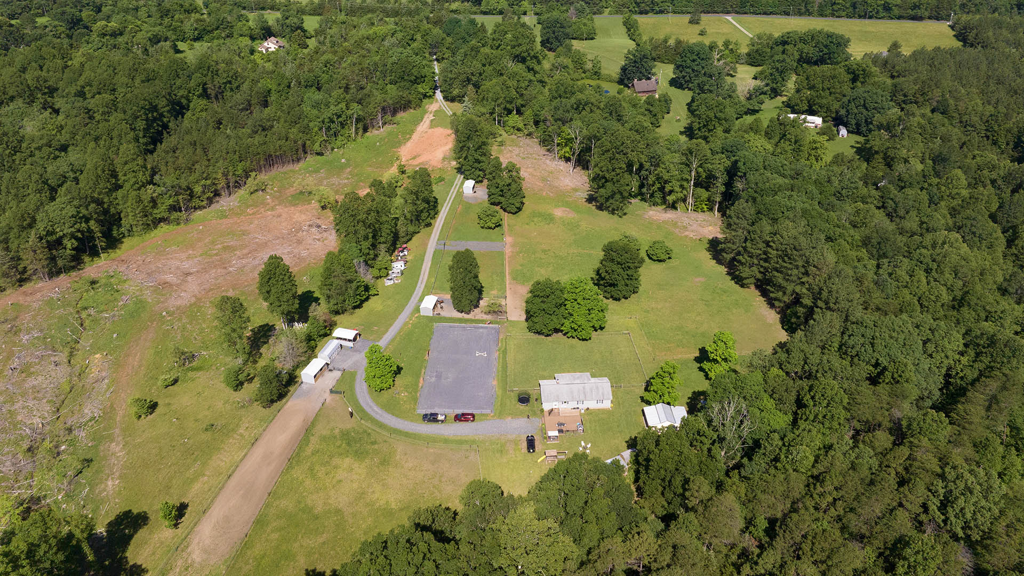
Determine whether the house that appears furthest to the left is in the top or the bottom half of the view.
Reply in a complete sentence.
You can find the house that appears furthest to the left in the top half.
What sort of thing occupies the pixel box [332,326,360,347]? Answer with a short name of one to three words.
barn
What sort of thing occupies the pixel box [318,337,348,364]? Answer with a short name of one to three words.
barn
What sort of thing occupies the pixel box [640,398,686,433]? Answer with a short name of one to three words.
shed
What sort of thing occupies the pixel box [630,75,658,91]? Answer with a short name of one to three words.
house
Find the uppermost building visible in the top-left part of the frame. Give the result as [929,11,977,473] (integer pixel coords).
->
[256,33,288,53]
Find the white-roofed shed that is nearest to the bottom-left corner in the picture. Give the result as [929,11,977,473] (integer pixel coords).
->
[300,357,326,384]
